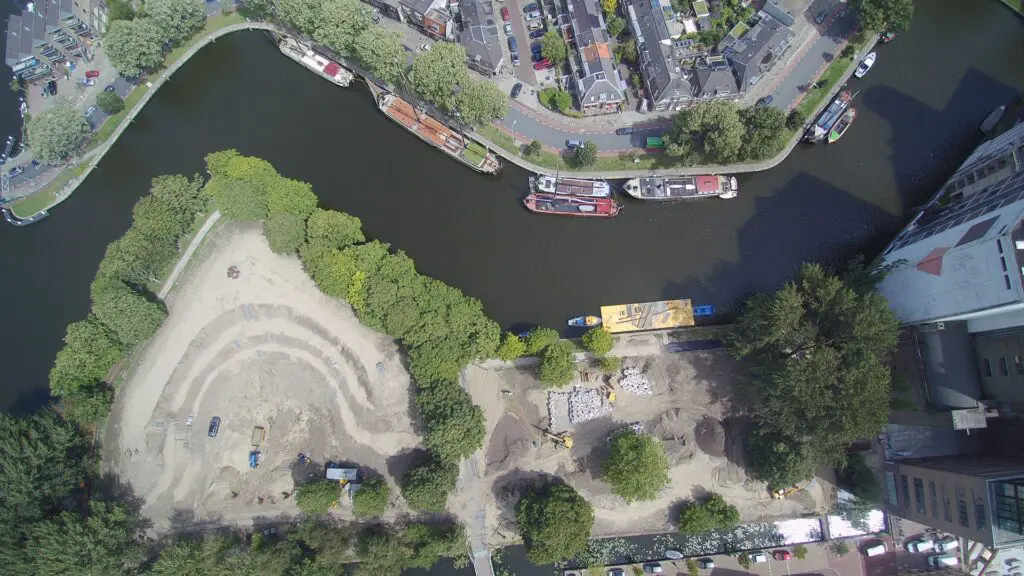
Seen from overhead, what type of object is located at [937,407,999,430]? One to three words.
shed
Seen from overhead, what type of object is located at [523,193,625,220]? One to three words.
ship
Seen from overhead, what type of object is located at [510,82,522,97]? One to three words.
vehicle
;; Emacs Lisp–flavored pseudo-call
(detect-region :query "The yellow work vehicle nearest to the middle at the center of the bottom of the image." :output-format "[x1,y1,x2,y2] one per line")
[531,422,577,450]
